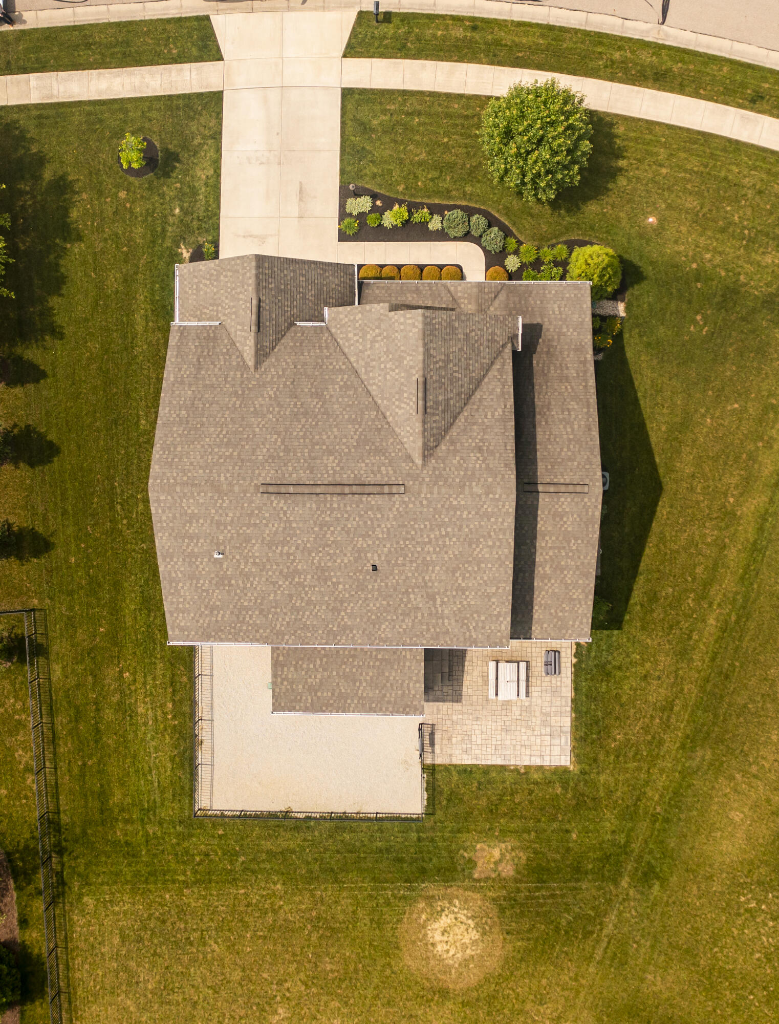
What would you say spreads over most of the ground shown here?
grass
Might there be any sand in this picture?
No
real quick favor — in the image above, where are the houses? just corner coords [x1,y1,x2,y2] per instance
[150,254,602,716]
